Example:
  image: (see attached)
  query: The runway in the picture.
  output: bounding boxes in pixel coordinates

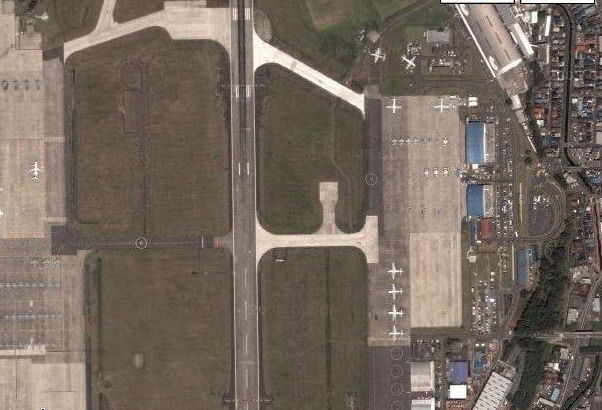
[221,0,271,410]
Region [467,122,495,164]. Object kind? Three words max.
hangar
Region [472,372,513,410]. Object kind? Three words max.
building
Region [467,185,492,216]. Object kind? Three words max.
hangar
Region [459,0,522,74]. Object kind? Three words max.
building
